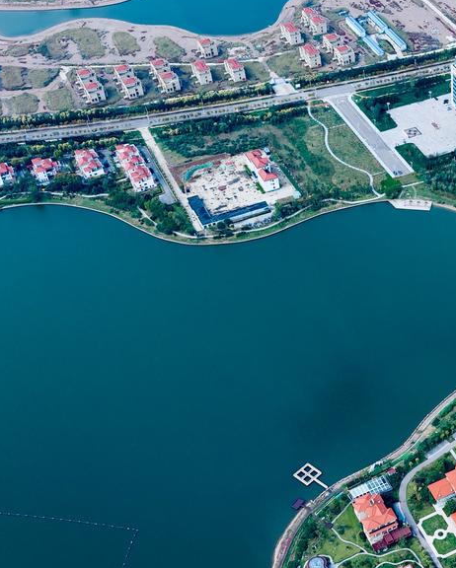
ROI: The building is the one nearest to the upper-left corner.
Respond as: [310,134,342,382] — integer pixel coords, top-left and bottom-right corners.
[78,66,107,102]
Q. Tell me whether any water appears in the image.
Yes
